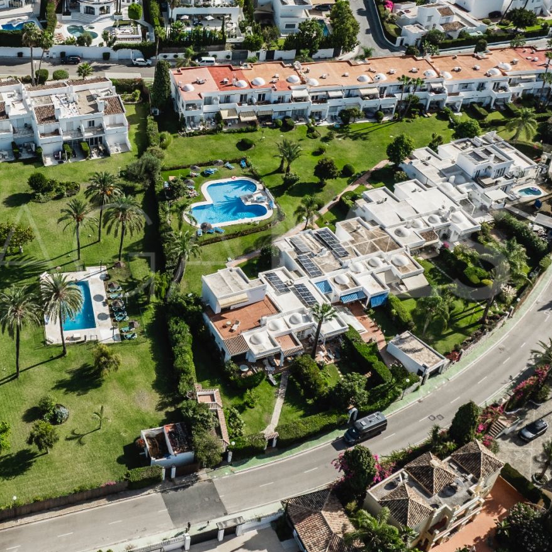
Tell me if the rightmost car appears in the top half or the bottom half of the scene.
bottom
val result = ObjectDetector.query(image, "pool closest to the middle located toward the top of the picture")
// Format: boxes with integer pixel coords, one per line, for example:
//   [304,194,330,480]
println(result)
[188,177,271,228]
